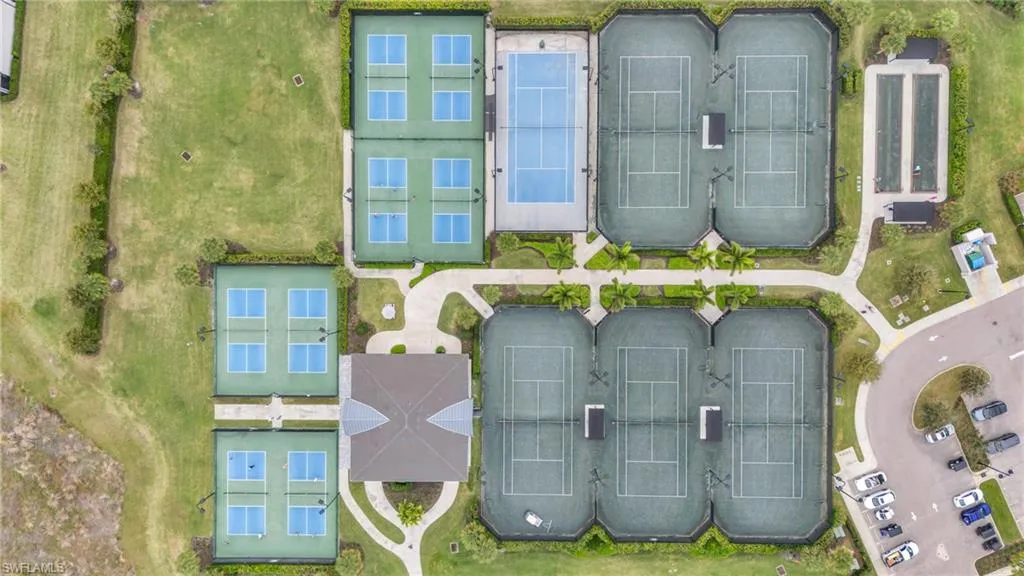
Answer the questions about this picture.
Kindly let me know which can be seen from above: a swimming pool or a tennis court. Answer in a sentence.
It is a tennis court that can be seen here.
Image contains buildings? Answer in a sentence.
Yes, the frame does contain a building.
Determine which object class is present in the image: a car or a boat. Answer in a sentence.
This aerial view contains a car.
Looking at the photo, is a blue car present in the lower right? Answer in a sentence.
Yes, a blue car shows up in the lower right.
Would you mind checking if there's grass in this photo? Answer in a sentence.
Yes, grass shows up in the scene.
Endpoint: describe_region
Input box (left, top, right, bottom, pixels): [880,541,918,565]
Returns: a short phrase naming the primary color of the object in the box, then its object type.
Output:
white truck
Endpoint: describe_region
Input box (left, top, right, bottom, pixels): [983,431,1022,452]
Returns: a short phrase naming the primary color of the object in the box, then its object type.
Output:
gray truck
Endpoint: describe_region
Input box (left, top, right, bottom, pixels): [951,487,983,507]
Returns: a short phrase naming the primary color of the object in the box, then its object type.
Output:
white car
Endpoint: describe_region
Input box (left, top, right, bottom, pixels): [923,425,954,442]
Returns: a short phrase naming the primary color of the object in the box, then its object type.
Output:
white car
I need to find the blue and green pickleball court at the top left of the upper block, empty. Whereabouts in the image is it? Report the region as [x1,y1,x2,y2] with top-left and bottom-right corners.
[354,15,419,138]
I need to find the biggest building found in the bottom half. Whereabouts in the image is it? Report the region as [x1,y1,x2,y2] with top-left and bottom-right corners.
[340,353,474,481]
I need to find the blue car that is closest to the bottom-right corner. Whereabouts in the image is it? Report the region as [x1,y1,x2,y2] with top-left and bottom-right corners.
[958,503,991,524]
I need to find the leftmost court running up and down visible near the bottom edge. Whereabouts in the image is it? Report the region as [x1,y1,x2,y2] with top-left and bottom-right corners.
[216,432,277,558]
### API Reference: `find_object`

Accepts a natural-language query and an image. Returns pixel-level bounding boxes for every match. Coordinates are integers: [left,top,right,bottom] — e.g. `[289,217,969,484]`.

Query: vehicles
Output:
[525,510,542,528]
[983,431,1022,452]
[874,506,895,521]
[878,522,902,538]
[971,401,1008,420]
[945,456,968,470]
[855,471,887,490]
[923,425,954,442]
[958,503,991,524]
[981,536,1003,551]
[951,487,983,507]
[880,541,918,565]
[863,489,896,509]
[974,522,996,537]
